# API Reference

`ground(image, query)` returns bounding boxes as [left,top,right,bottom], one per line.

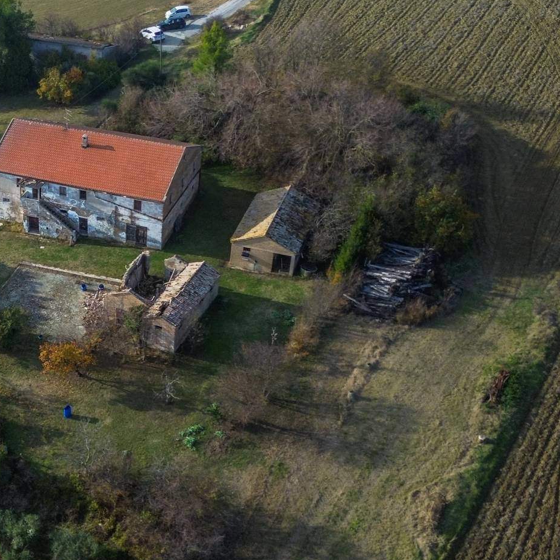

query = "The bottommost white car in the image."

[140,28,167,42]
